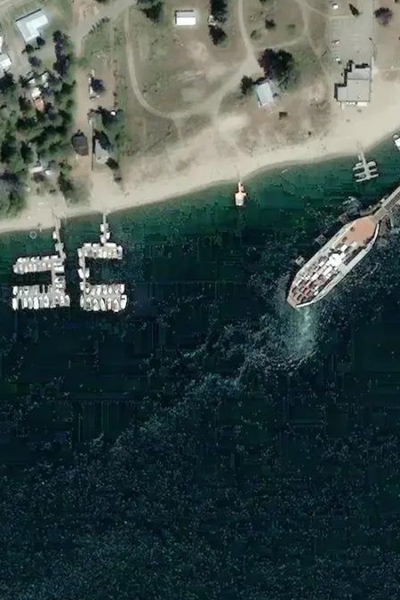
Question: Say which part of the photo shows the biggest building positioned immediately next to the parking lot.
top right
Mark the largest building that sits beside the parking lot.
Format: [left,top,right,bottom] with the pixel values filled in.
[339,69,372,101]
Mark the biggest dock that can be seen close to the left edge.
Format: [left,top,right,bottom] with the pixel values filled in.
[11,218,67,308]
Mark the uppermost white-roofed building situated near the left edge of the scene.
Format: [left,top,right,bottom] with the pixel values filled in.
[18,11,44,41]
